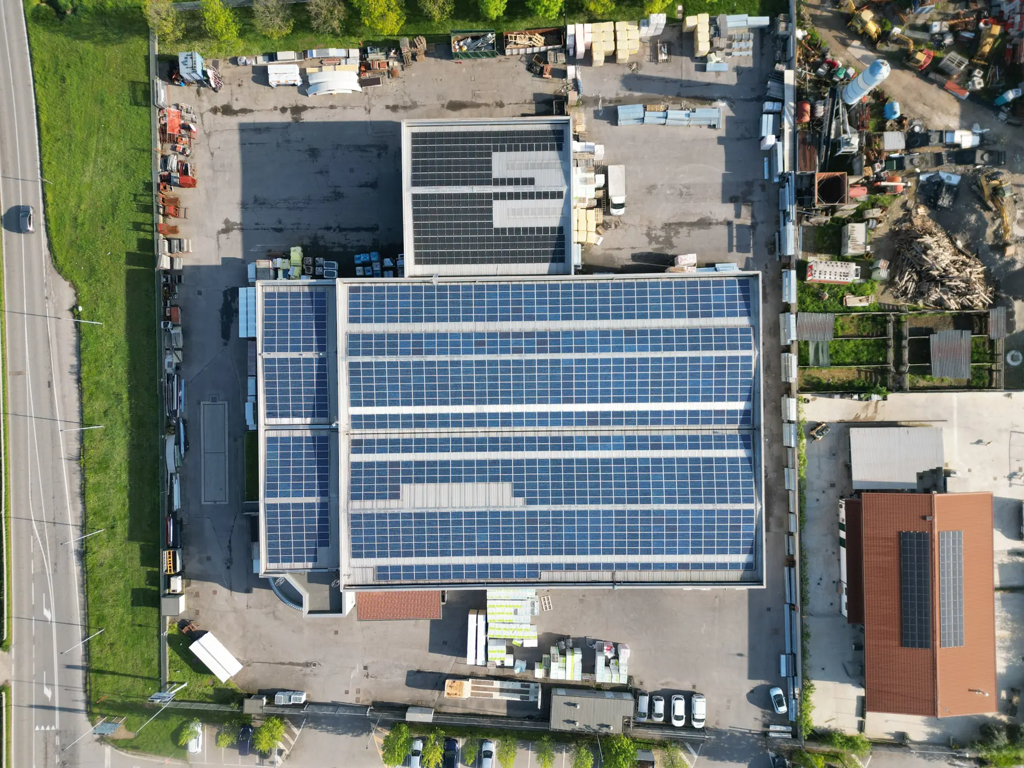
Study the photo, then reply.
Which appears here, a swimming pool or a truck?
truck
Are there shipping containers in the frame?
Yes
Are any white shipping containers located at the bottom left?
Yes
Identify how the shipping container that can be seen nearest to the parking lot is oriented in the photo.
at an angle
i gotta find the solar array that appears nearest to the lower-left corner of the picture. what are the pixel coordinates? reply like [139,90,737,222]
[265,504,328,565]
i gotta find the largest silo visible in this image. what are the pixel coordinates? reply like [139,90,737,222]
[837,59,892,114]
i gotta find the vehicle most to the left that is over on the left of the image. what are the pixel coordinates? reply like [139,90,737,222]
[17,204,35,236]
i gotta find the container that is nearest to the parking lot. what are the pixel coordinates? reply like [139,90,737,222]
[189,633,240,684]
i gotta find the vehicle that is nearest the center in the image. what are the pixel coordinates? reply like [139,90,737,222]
[607,161,626,217]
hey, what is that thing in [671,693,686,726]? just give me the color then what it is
white car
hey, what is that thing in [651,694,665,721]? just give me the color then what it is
white car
